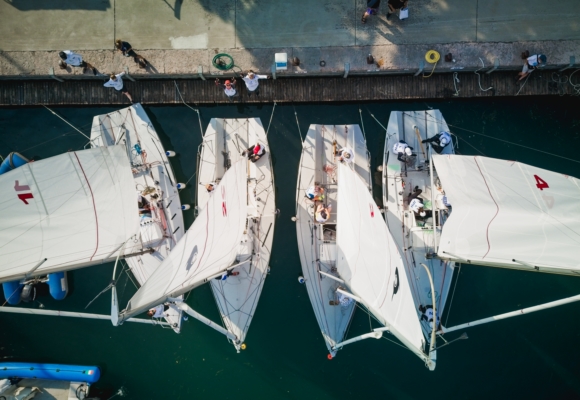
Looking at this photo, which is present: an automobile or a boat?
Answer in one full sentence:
Visible in the photo is a boat.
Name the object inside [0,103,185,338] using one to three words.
boat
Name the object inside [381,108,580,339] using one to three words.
boat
